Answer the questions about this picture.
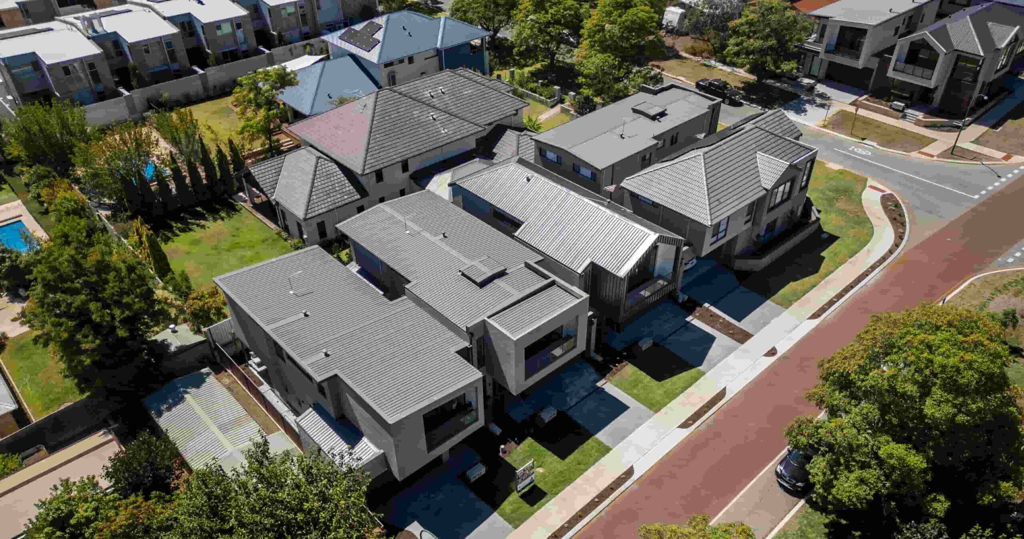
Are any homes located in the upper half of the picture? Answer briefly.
Yes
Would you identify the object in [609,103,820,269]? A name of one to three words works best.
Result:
house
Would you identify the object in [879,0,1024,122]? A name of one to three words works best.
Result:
house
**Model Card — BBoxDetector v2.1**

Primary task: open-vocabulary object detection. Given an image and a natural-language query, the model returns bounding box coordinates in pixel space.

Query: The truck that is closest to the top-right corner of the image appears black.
[694,81,741,106]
